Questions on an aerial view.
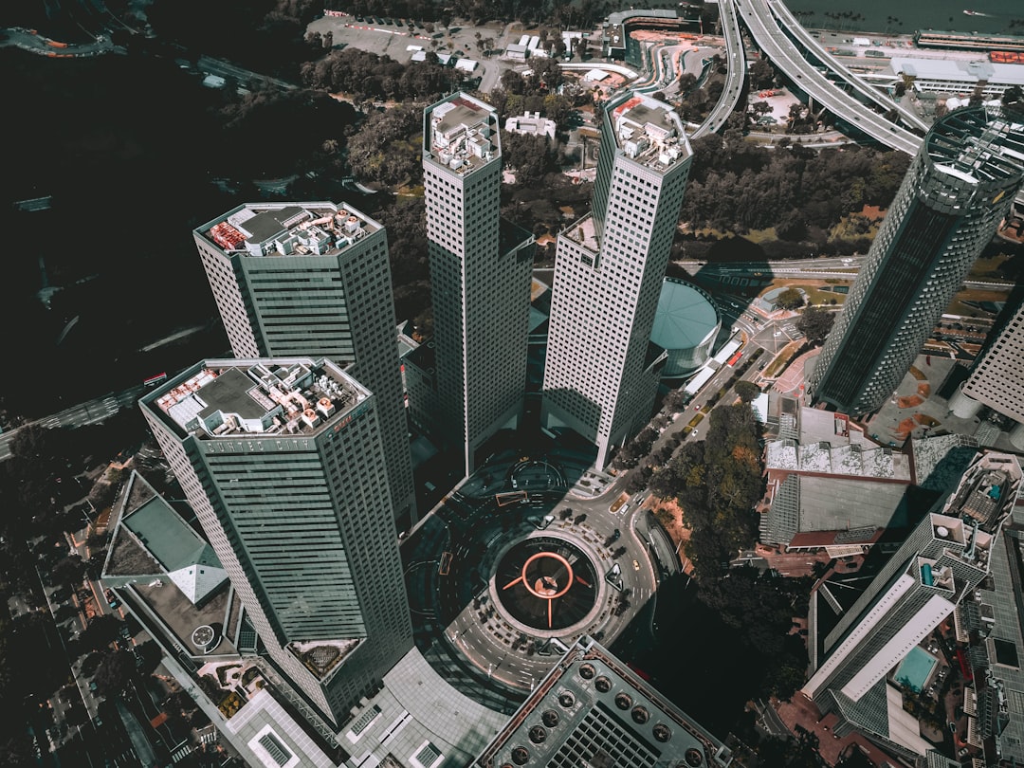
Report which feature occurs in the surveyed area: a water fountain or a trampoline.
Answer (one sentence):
It is a water fountain that can be seen here.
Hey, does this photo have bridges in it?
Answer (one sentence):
Yes, looking at the shot, I can spot a bridge.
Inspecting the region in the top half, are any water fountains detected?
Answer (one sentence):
No, the scene shows no water fountain in the top half.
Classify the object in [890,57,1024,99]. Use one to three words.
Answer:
building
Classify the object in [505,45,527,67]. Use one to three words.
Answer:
shed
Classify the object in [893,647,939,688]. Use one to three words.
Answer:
swimming pool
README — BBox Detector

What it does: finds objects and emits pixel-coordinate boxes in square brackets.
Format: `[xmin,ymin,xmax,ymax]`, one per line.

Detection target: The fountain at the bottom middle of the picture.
[488,527,607,638]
